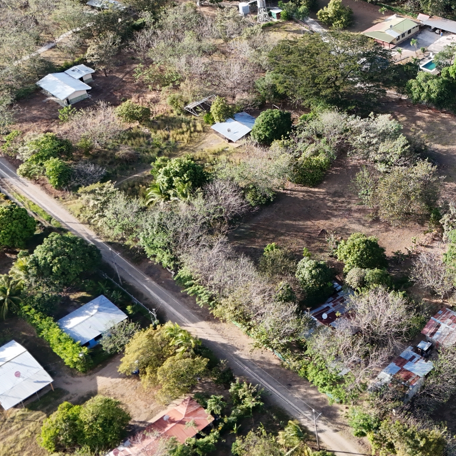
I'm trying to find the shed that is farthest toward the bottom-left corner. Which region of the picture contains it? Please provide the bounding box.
[0,337,56,419]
